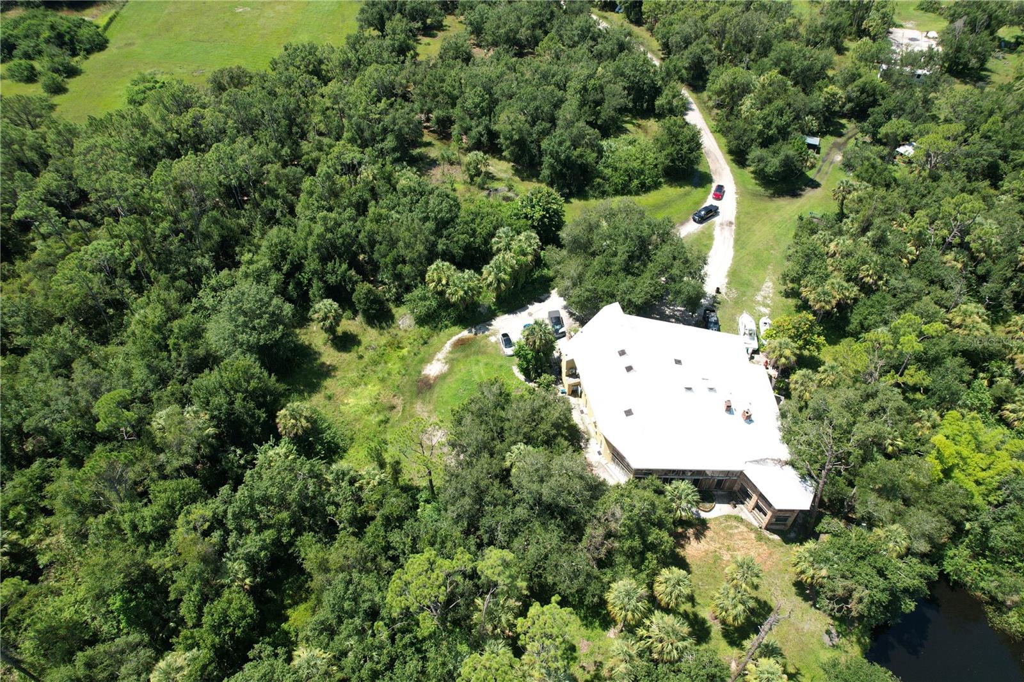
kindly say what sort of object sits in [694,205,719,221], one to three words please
vehicle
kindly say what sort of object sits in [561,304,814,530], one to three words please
house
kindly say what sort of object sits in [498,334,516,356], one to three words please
car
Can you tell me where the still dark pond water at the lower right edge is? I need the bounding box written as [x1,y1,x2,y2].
[866,575,1024,682]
